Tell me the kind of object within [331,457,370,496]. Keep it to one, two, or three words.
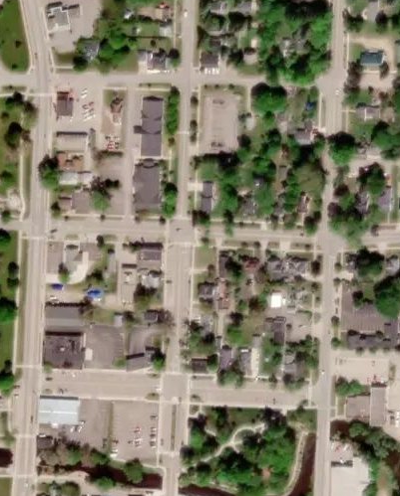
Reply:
building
